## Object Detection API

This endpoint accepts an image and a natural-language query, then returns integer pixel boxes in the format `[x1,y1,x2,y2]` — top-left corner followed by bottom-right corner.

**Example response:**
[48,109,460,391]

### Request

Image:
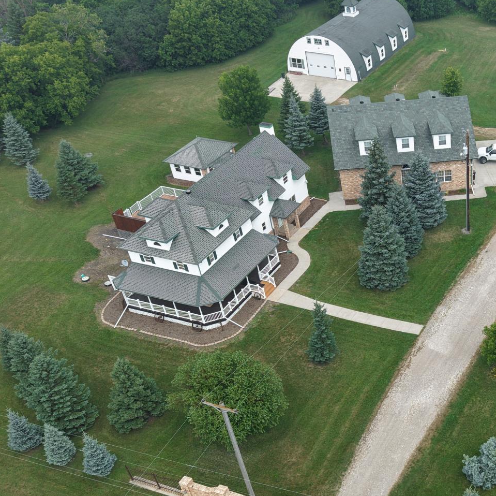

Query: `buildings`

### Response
[286,0,413,83]
[328,90,479,200]
[113,119,324,330]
